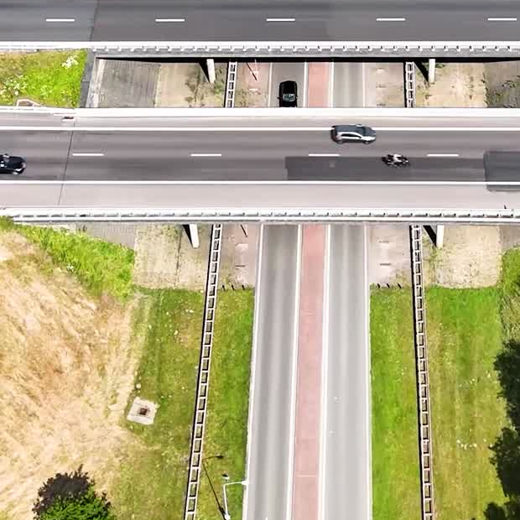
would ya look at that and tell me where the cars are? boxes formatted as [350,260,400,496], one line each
[0,151,26,173]
[278,80,298,106]
[331,122,375,144]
